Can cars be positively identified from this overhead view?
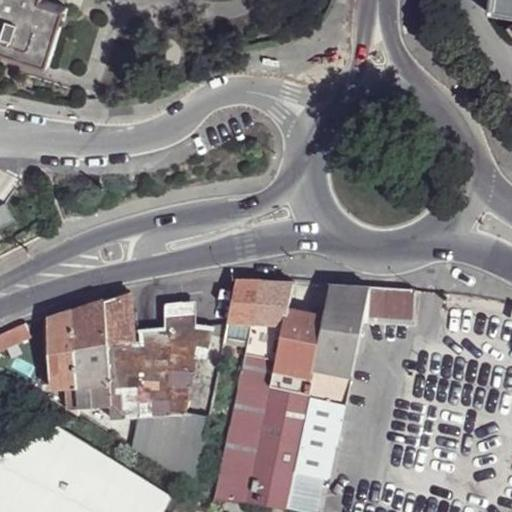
Yes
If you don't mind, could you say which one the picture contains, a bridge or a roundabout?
roundabout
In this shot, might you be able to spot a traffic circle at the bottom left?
No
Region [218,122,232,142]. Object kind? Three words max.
car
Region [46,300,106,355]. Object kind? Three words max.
house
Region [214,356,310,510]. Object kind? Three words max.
building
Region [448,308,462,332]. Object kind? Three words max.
vehicle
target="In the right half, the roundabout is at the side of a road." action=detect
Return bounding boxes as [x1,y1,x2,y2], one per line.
[305,76,466,253]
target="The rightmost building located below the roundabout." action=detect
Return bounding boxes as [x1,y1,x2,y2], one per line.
[369,288,414,320]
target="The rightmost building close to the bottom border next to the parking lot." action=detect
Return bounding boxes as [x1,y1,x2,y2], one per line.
[286,396,346,512]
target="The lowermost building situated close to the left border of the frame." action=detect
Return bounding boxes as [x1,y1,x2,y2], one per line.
[0,425,170,512]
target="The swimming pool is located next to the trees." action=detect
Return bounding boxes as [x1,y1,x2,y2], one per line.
[12,358,34,378]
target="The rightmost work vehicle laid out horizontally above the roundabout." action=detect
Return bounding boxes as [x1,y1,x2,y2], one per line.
[306,50,338,62]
